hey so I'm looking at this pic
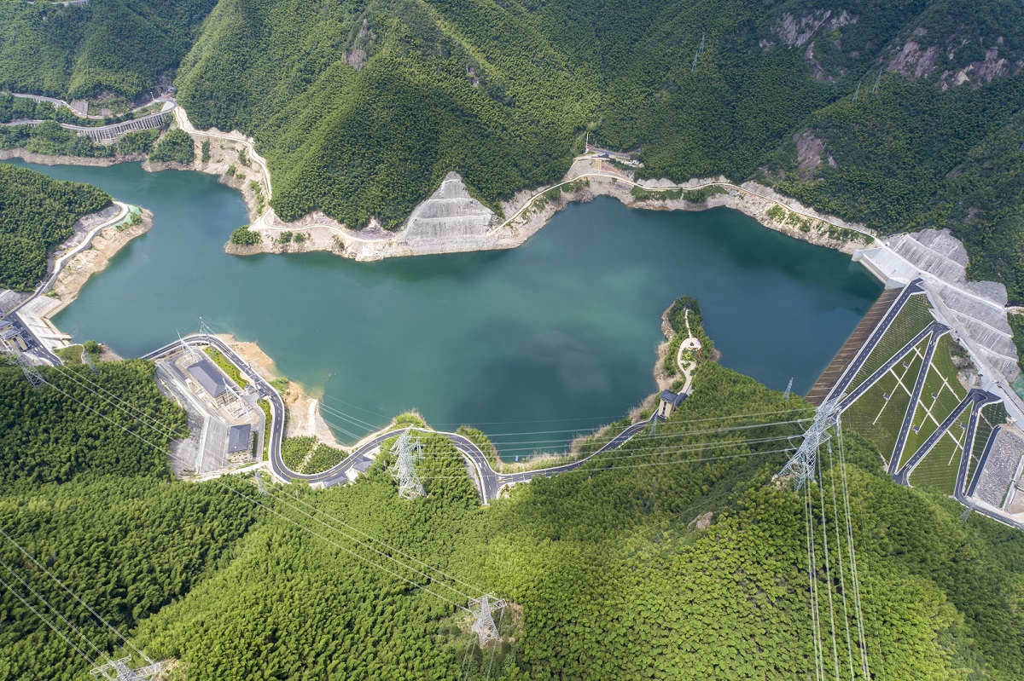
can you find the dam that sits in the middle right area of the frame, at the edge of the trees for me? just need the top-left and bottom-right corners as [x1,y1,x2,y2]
[810,278,1024,527]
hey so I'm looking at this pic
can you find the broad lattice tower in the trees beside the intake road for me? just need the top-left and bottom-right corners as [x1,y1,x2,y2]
[6,347,43,382]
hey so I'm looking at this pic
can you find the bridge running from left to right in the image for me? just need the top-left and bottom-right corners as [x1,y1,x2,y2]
[0,105,176,140]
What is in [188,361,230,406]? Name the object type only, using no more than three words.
building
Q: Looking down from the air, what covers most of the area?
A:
trees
